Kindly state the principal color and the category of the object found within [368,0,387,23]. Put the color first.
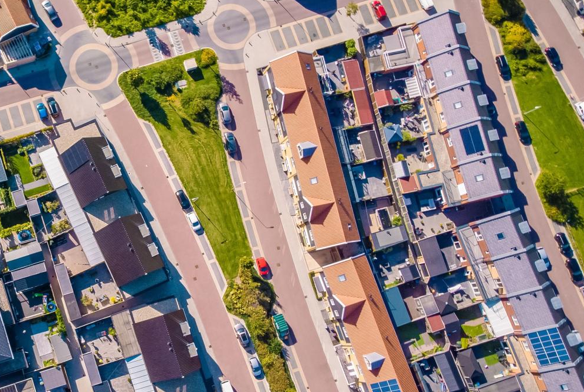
red car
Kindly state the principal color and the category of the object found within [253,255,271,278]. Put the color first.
red car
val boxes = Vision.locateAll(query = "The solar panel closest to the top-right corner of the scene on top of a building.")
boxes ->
[460,124,485,155]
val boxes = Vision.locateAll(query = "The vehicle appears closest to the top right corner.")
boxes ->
[543,46,563,72]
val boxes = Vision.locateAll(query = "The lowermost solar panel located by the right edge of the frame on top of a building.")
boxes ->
[528,328,570,367]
